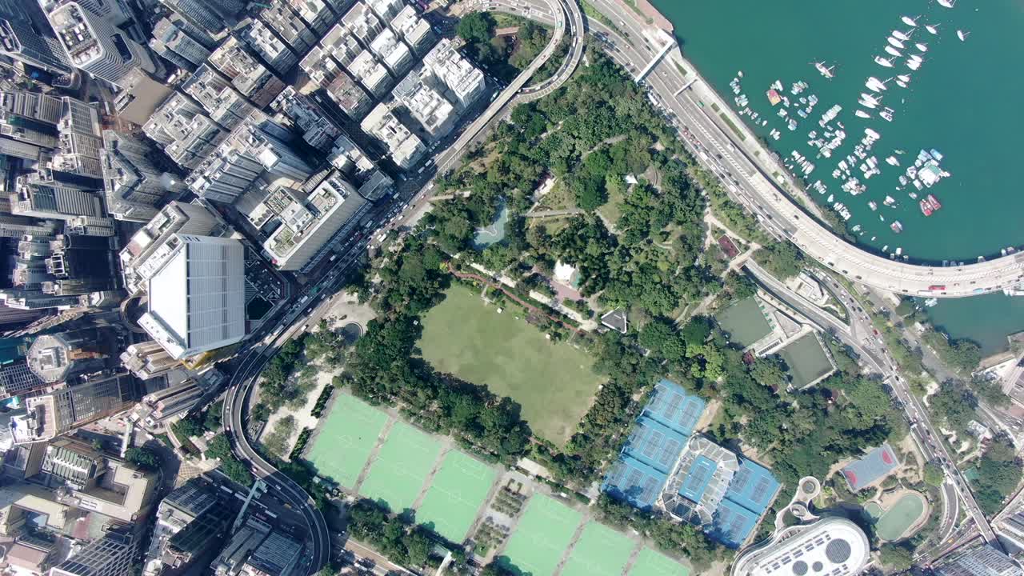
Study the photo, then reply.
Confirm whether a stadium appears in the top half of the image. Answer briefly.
No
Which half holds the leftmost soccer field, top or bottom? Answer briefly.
bottom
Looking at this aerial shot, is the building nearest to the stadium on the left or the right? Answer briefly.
right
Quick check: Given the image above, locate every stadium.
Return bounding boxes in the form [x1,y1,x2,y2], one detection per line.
[660,433,740,526]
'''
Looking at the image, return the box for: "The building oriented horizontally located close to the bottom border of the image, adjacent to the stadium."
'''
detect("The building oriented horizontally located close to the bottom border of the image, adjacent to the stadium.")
[726,511,871,576]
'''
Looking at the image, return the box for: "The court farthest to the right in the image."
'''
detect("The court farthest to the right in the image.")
[840,445,899,490]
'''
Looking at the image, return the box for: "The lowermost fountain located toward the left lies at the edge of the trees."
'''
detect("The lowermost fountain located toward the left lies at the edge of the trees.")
[342,318,365,341]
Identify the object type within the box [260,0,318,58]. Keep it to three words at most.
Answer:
building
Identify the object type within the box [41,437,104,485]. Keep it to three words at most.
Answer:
building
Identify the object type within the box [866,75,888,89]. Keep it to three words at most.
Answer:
boat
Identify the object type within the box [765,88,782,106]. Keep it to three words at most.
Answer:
ship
